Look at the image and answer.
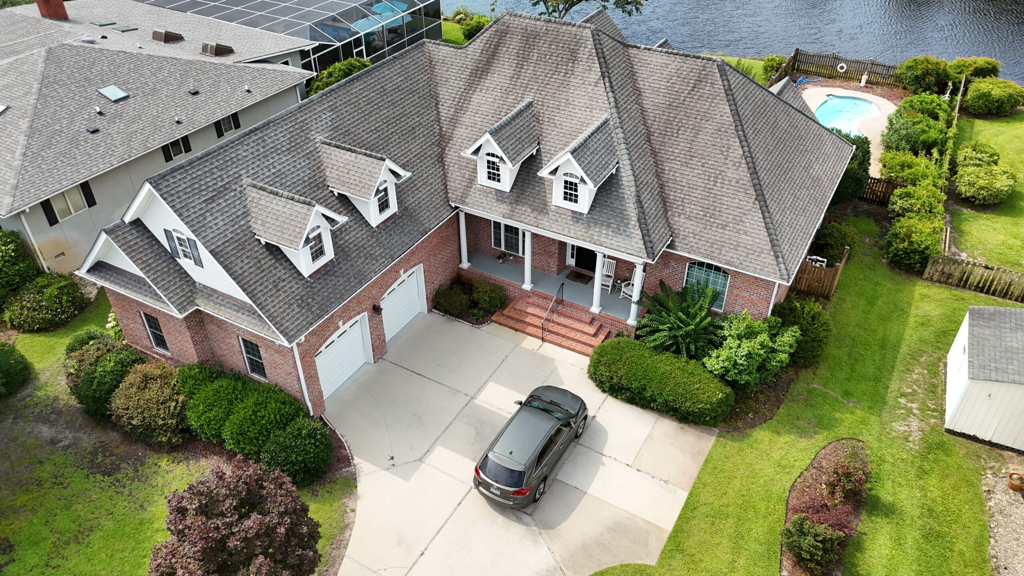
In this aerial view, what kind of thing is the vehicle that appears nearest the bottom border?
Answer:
automobile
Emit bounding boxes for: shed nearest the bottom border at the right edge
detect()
[937,305,1024,459]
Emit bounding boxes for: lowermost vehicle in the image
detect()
[471,391,585,517]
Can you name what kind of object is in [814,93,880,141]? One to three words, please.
swimming pool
